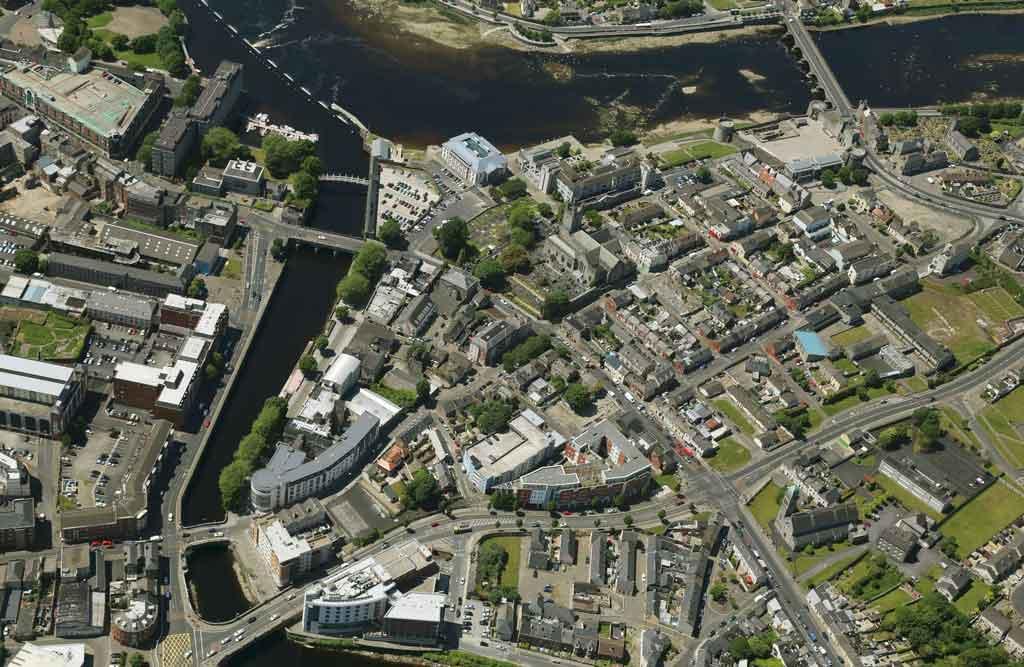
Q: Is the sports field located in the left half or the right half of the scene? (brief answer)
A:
right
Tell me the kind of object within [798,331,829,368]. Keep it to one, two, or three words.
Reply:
shed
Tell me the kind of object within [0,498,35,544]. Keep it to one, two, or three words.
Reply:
building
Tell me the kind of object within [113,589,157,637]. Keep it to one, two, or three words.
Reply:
building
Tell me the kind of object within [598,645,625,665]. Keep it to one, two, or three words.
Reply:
house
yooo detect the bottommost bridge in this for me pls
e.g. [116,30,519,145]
[188,583,303,649]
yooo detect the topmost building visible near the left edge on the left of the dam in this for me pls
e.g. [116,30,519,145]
[31,19,63,43]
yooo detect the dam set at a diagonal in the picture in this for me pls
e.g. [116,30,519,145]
[188,0,349,137]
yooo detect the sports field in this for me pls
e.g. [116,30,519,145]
[904,279,1024,367]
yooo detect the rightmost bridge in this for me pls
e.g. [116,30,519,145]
[779,16,858,109]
